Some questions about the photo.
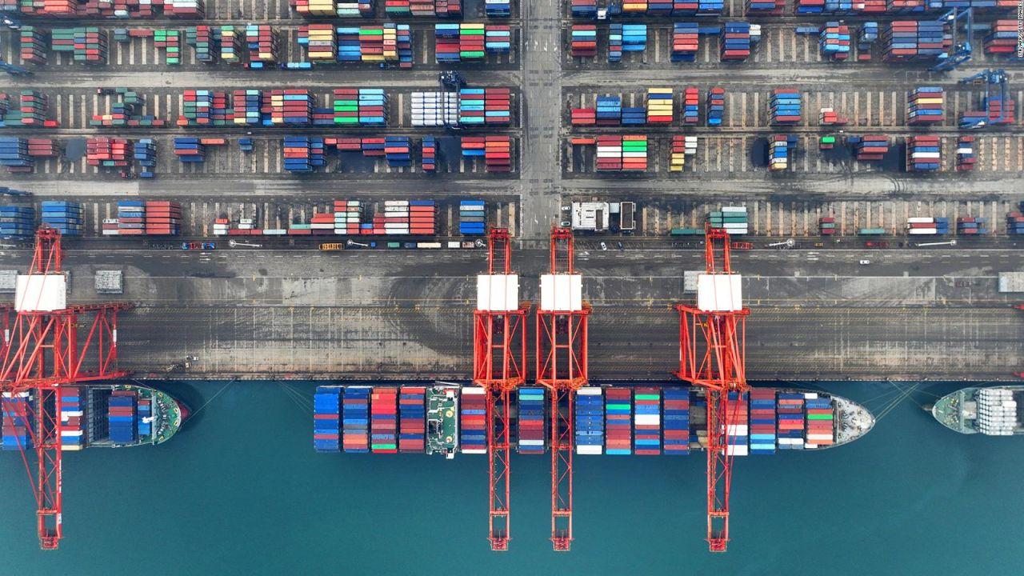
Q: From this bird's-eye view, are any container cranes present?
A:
Yes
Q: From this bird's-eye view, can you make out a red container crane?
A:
Yes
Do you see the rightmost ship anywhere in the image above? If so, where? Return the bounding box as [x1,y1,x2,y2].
[920,384,1024,435]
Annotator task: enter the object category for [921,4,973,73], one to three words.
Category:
crane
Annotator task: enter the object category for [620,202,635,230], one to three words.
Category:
shed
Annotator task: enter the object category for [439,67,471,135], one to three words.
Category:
crane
